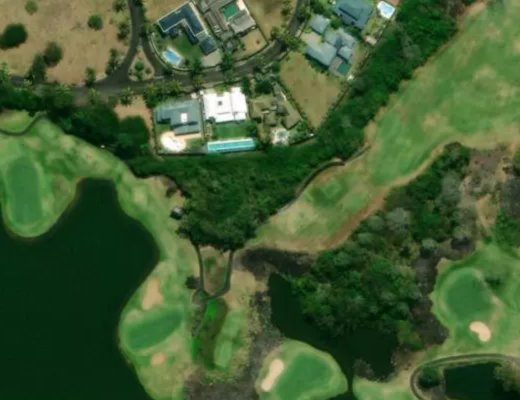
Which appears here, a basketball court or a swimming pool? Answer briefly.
swimming pool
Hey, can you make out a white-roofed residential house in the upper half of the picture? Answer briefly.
Yes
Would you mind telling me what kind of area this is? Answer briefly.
golf course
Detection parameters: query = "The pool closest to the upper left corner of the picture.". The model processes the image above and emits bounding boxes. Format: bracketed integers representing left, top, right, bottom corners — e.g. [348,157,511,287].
[162,48,184,66]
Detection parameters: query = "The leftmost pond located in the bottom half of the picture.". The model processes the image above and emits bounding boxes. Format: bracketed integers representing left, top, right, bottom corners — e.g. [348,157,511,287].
[266,273,397,400]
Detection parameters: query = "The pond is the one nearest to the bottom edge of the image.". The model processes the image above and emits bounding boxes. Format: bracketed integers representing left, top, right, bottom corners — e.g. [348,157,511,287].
[444,363,520,400]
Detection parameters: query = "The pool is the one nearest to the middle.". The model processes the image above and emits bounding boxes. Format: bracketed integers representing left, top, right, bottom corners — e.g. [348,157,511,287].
[207,138,254,153]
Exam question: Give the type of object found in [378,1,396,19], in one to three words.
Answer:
swimming pool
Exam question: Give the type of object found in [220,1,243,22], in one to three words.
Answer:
swimming pool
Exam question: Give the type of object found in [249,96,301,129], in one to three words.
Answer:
house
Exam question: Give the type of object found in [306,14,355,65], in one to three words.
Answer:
house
